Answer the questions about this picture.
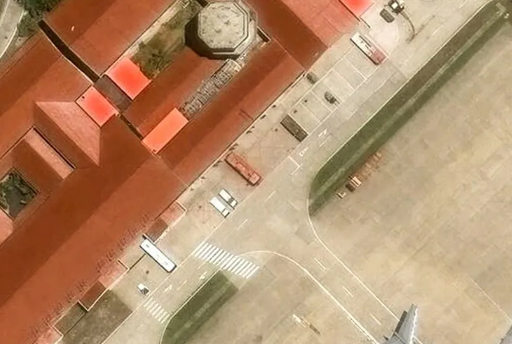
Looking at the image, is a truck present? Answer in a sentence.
Yes, the picture does show a truck.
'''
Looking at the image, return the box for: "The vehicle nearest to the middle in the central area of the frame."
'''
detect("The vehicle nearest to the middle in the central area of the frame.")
[225,153,259,185]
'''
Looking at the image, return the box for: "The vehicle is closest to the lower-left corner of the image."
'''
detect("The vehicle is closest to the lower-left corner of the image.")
[137,282,151,296]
